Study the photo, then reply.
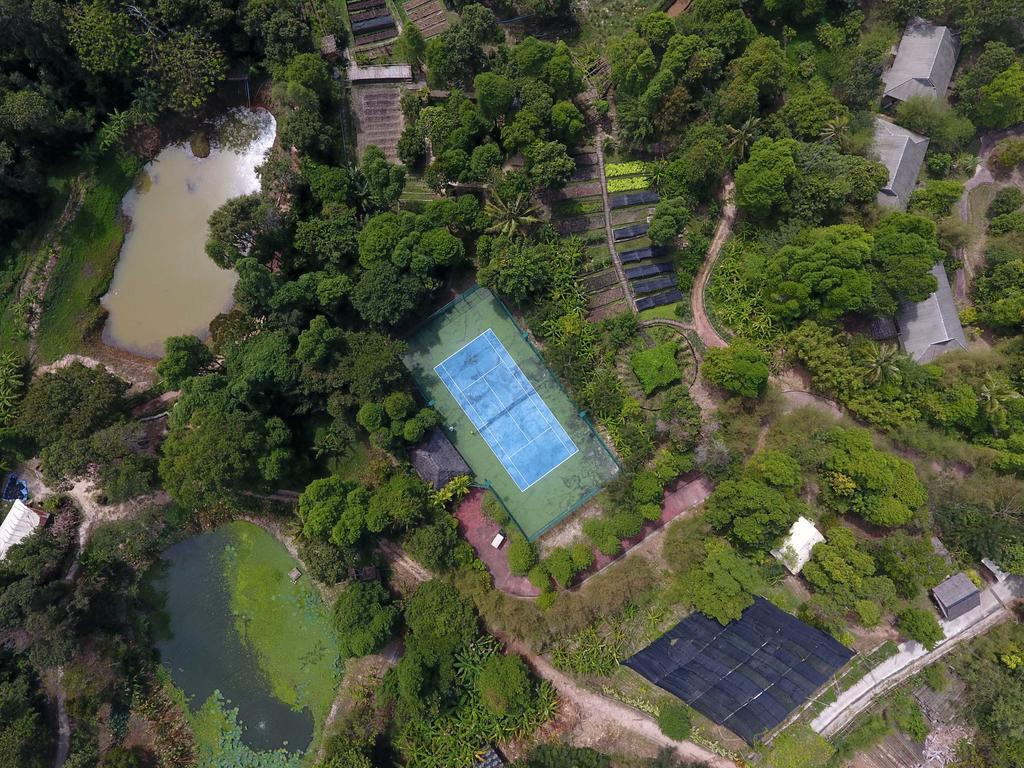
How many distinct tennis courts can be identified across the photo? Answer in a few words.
one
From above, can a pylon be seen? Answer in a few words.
No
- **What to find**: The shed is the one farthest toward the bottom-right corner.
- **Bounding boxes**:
[932,573,980,621]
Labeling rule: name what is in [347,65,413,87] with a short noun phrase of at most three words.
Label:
shed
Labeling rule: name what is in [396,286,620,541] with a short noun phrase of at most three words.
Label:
tennis court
